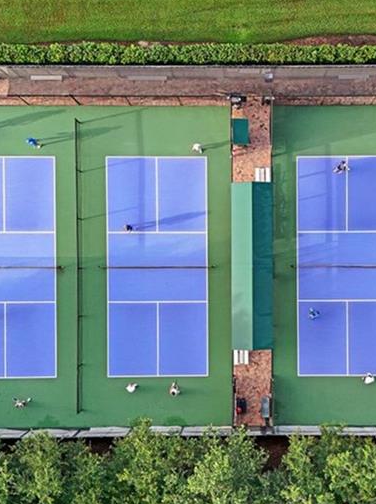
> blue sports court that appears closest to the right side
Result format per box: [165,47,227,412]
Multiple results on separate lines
[297,155,376,376]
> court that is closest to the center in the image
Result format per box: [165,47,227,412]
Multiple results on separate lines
[106,156,208,377]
